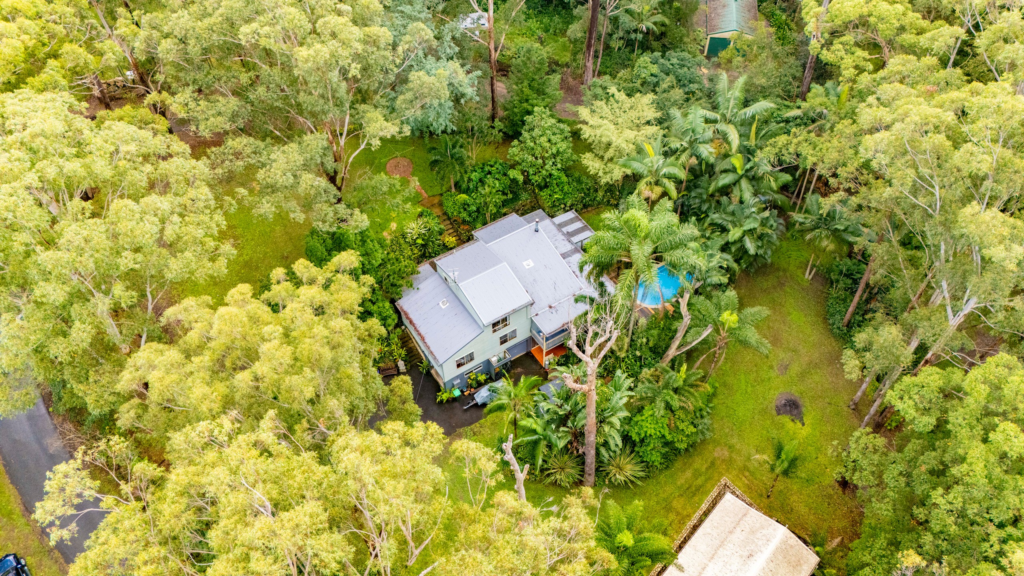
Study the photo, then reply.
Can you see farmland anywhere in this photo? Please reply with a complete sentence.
No, farmland can't be seen anywhere here.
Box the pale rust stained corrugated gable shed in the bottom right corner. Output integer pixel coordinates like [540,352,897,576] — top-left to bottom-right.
[658,492,819,576]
